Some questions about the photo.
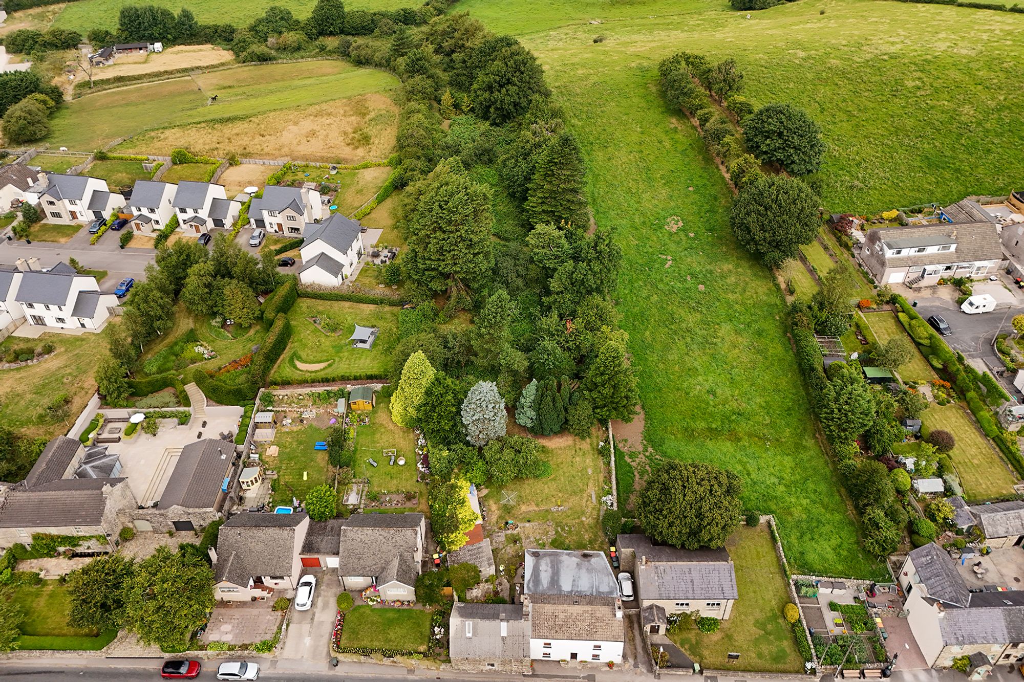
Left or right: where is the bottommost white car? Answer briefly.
left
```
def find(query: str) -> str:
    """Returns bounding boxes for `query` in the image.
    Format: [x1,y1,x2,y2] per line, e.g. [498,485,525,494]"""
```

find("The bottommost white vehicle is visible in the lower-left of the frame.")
[215,660,261,682]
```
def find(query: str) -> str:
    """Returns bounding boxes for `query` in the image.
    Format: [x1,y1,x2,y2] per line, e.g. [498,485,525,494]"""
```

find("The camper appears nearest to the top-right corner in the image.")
[960,293,998,313]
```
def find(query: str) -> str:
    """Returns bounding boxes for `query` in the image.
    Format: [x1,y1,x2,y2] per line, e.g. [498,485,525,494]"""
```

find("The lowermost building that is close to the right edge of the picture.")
[907,590,1024,676]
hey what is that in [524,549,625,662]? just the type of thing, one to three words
house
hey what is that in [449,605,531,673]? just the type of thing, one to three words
barn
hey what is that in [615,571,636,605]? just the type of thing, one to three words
car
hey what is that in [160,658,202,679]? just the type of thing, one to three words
car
